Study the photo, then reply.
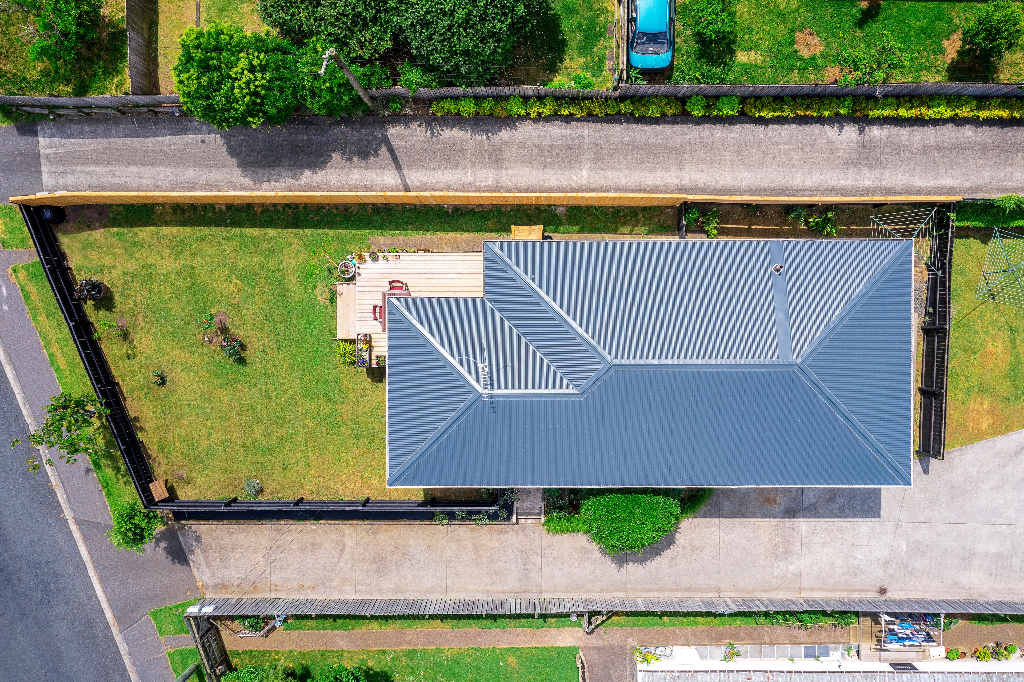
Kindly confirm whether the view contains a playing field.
No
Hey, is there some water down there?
No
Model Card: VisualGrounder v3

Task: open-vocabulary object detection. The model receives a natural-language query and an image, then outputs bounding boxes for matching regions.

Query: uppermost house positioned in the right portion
[384,240,912,489]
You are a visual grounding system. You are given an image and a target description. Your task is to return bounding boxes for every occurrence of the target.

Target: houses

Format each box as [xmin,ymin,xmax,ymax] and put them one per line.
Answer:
[639,658,1024,682]
[384,240,912,489]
